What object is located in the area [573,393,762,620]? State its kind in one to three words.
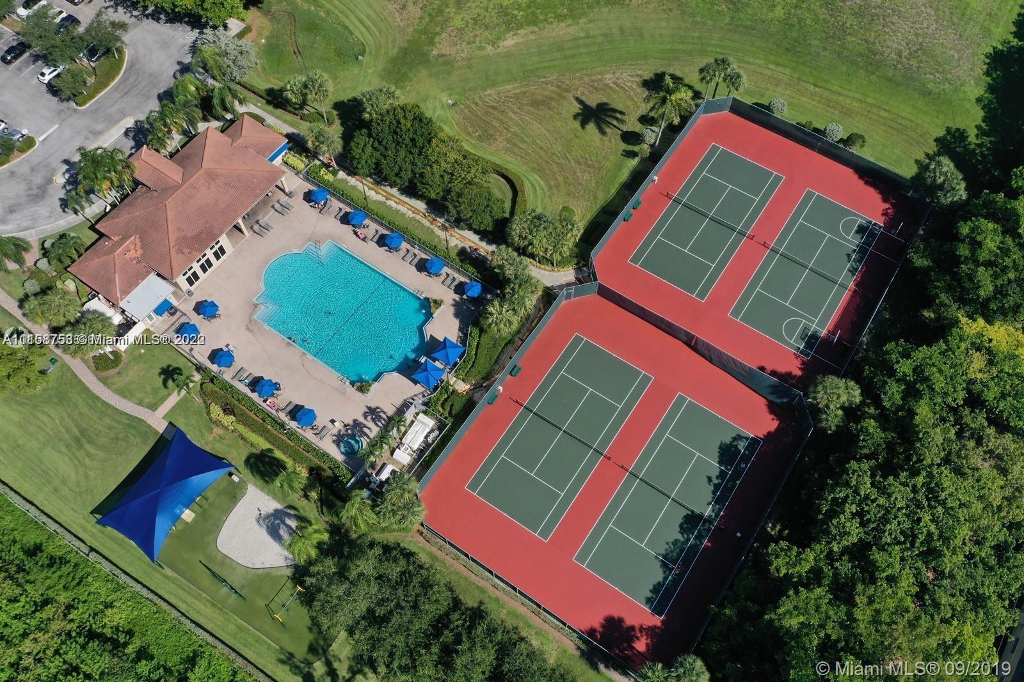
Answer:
tennis court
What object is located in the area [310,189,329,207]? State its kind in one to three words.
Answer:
umbrella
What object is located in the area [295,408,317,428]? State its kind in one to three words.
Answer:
umbrella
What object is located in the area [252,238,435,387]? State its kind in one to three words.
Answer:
swimming pool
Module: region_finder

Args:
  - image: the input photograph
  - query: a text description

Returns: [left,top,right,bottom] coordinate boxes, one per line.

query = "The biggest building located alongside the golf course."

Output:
[67,113,294,329]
